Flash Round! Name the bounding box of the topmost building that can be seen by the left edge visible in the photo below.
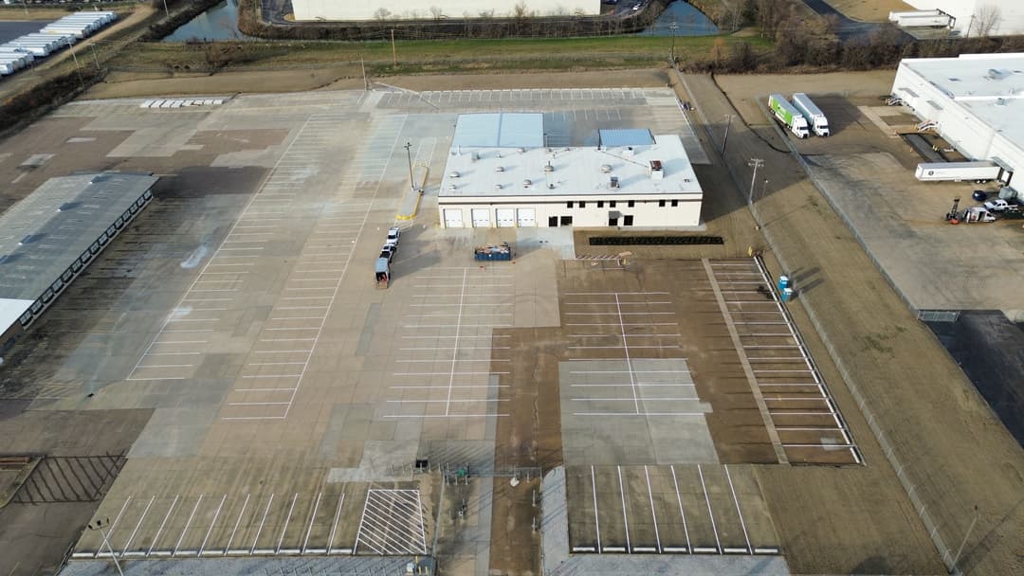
[0,171,161,329]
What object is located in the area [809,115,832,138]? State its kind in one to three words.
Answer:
truck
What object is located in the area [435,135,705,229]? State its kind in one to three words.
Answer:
building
